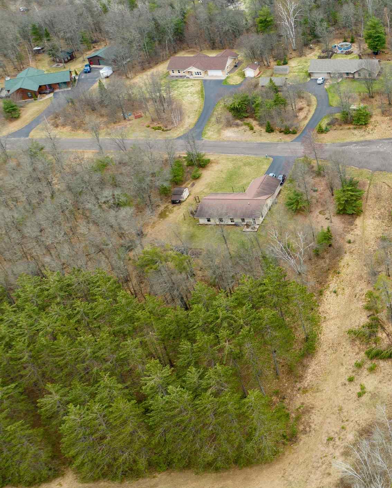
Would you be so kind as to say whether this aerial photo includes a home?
Yes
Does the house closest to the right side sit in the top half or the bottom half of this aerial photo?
top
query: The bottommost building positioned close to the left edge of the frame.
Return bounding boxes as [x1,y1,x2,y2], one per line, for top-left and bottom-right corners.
[0,71,94,103]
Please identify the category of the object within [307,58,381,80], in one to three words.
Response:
house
